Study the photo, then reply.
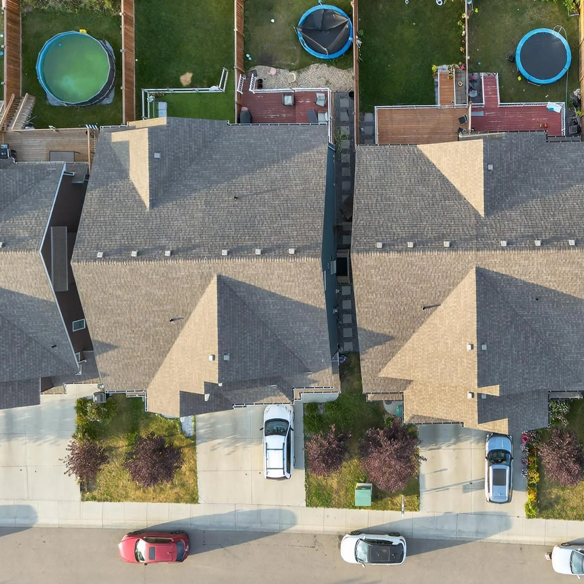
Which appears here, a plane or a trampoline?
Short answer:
trampoline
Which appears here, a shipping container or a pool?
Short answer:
pool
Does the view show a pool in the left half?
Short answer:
Yes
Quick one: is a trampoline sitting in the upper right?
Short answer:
Yes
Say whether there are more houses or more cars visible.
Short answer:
cars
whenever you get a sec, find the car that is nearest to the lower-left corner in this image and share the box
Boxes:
[121,529,192,566]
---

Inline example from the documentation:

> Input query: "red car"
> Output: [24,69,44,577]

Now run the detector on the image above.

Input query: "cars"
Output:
[551,542,584,579]
[260,404,296,477]
[121,529,192,566]
[482,432,516,503]
[340,530,407,568]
